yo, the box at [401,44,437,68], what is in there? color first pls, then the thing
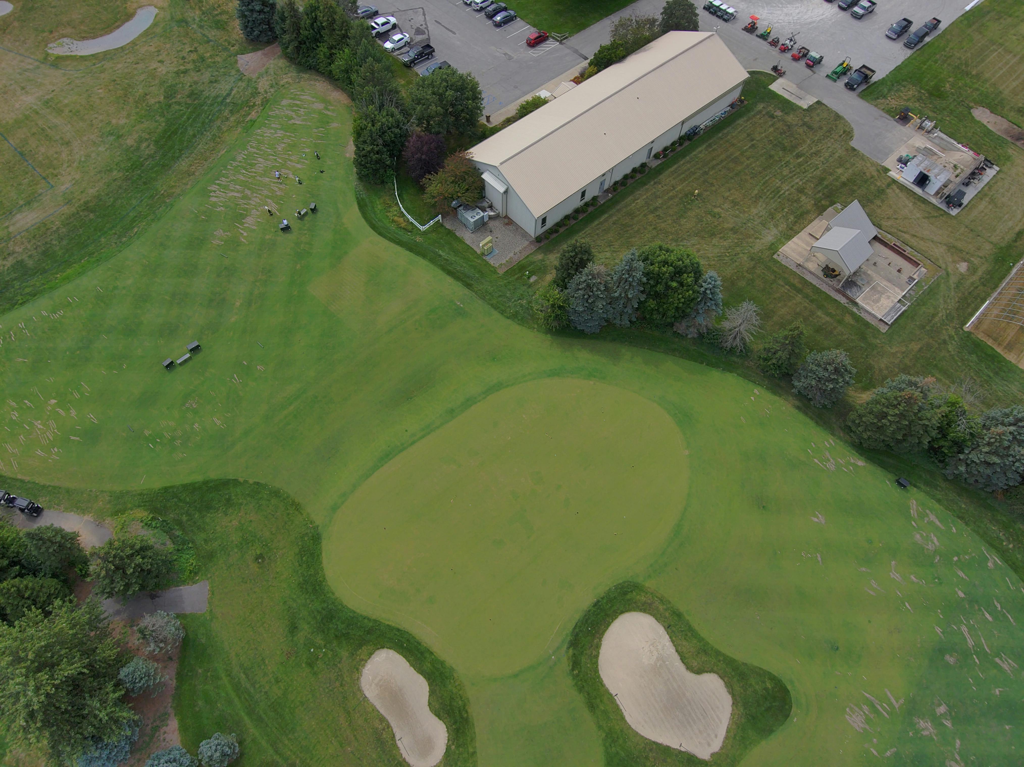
black truck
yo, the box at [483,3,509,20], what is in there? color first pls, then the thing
black car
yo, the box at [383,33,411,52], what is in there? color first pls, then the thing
white car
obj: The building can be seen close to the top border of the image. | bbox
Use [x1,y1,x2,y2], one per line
[468,28,750,235]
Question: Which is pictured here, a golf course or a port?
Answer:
golf course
